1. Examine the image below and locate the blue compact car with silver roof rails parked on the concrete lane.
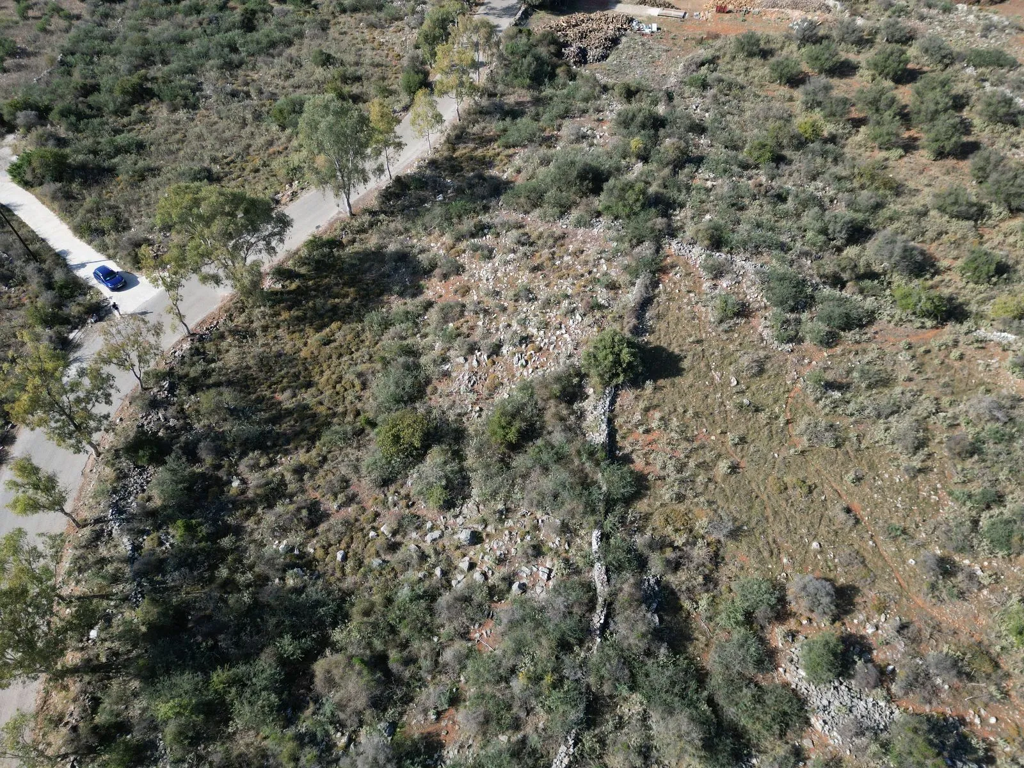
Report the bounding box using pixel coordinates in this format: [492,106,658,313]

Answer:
[90,263,125,292]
